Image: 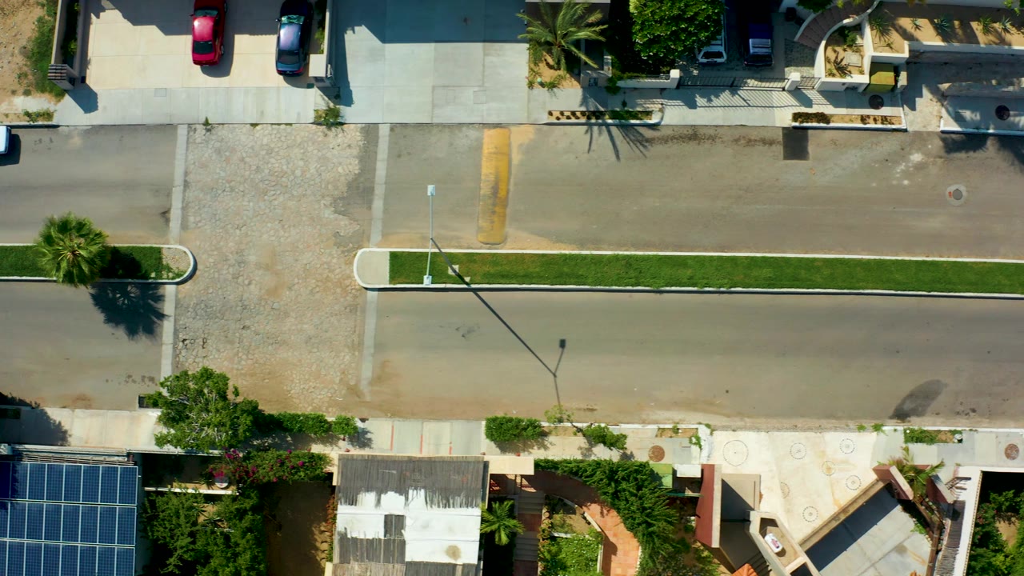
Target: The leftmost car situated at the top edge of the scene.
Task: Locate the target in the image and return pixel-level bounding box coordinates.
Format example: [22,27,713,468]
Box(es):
[190,0,230,67]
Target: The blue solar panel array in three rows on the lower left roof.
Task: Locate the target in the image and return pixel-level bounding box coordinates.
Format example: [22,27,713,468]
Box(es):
[0,461,140,576]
